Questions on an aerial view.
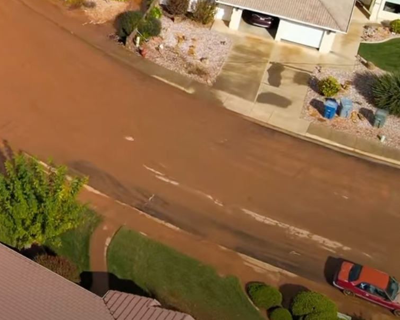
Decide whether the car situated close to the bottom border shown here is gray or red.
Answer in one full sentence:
In this view, the car situated close to the bottom border is red.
